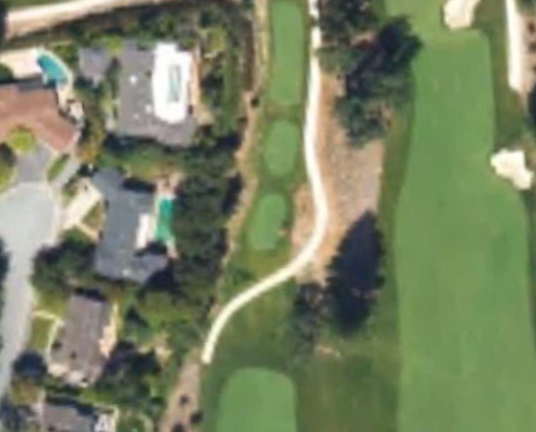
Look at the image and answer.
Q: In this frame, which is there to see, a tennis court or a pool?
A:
pool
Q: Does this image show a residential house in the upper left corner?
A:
Yes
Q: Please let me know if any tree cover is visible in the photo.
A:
Yes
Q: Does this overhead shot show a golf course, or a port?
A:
golf course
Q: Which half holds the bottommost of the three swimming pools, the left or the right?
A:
left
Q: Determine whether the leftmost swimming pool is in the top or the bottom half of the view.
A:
top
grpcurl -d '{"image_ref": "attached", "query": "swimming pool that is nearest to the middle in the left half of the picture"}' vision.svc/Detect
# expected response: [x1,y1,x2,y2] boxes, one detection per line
[154,197,177,241]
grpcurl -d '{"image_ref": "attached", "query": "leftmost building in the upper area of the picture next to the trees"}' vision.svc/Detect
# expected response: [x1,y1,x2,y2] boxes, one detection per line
[0,80,77,154]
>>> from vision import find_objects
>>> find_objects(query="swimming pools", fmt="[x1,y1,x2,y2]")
[154,197,177,241]
[167,64,182,101]
[36,54,70,85]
